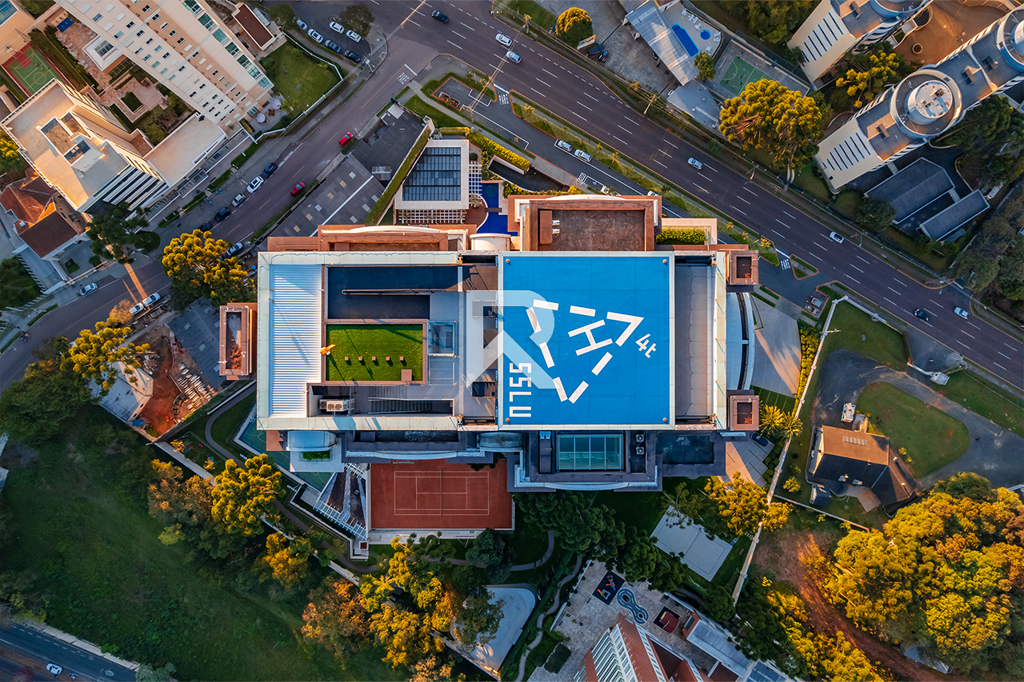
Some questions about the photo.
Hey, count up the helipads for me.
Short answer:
1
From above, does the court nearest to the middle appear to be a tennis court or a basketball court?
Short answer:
tennis court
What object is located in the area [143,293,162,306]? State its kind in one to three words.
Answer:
vehicle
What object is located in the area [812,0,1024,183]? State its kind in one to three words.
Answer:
building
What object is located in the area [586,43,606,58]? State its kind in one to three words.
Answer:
vehicle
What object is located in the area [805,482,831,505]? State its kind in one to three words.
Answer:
shed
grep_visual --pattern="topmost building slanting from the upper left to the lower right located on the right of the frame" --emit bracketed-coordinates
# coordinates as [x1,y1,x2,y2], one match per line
[623,0,700,89]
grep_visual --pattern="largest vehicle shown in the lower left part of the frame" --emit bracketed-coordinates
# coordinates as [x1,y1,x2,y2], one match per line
[45,662,63,674]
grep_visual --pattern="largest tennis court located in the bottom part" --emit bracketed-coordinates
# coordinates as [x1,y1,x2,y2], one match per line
[371,457,514,527]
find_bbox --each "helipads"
[498,251,675,430]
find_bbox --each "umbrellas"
[272,100,281,110]
[256,114,266,123]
